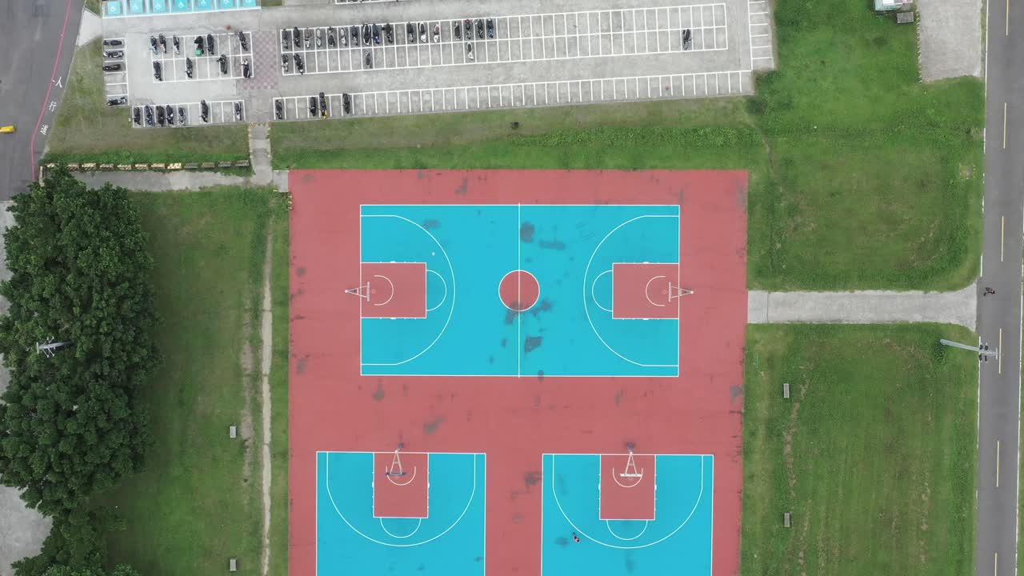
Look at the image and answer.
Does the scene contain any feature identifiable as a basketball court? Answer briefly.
Yes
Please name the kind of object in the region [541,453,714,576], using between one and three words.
basketball court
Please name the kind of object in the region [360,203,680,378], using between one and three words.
basketball court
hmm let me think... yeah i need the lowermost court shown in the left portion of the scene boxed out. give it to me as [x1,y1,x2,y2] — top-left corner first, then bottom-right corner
[316,451,486,576]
